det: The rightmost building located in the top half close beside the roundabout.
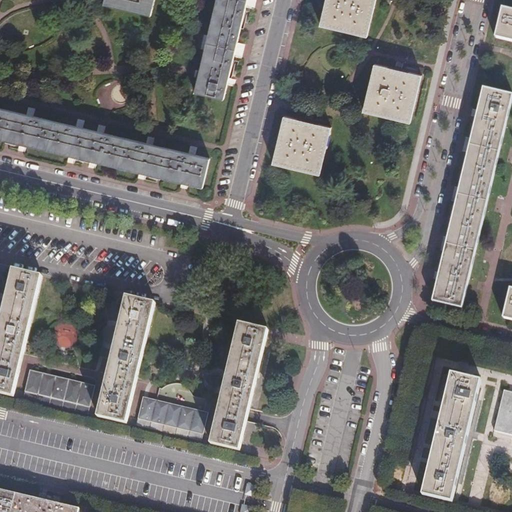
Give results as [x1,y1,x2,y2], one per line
[432,86,512,308]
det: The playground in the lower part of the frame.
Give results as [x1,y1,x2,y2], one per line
[158,384,200,406]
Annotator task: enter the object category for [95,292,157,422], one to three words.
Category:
building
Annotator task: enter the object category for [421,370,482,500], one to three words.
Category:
building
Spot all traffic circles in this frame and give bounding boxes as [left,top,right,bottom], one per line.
[298,230,412,345]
